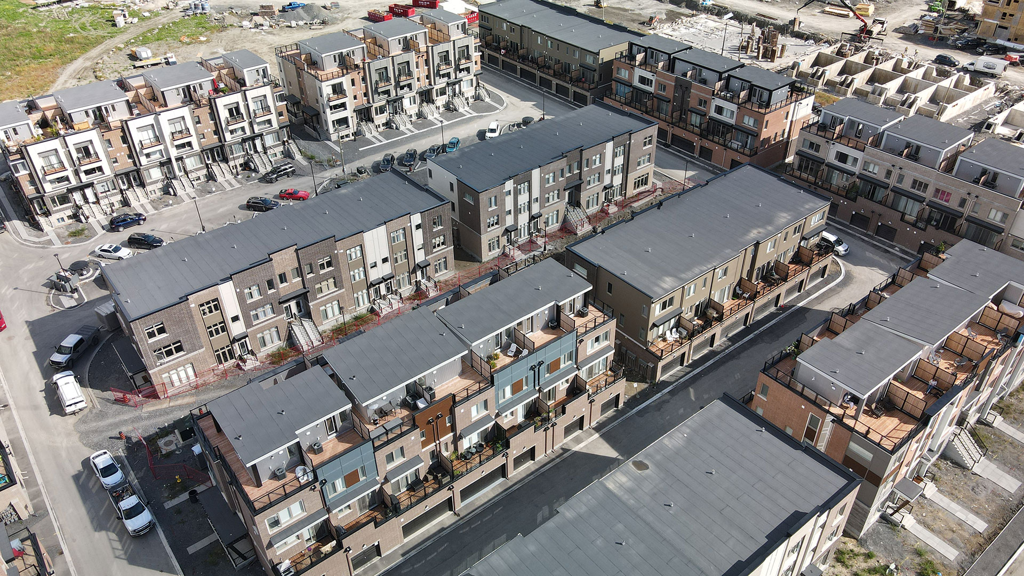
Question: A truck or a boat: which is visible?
truck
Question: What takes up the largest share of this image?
buildings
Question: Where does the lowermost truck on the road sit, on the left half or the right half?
left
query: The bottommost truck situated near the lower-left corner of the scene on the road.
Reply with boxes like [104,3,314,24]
[106,479,154,536]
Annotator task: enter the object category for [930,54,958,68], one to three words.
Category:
vehicle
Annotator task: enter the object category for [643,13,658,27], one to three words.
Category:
work vehicle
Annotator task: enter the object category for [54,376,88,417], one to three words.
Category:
truck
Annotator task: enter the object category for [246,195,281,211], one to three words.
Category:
car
